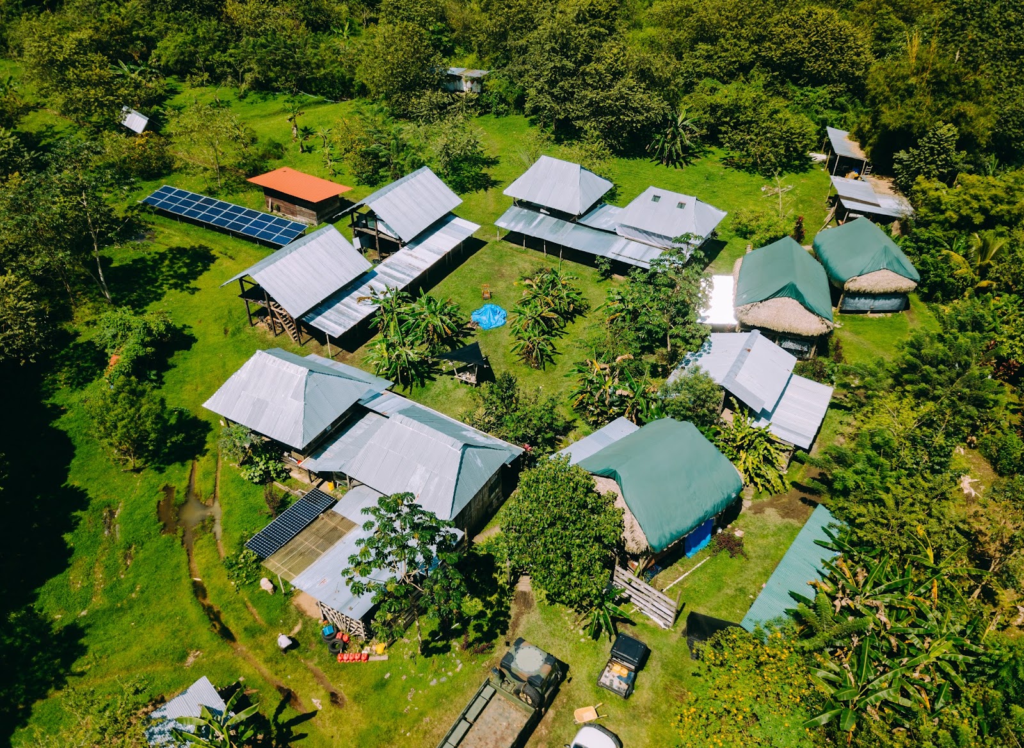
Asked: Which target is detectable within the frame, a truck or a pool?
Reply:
truck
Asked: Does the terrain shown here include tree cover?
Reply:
Yes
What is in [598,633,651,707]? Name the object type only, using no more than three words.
truck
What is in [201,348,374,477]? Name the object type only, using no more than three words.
house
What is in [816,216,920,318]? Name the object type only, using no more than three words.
shed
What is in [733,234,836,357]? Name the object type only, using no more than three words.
shed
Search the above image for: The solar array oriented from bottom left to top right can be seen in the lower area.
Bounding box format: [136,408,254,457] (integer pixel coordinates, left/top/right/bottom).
[245,489,336,577]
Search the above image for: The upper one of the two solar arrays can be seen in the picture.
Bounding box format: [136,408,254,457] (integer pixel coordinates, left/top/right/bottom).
[142,185,308,250]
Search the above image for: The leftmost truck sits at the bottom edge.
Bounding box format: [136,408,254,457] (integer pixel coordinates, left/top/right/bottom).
[439,633,575,748]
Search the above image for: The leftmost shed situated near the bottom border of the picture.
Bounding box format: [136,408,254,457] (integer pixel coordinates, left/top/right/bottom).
[147,676,234,748]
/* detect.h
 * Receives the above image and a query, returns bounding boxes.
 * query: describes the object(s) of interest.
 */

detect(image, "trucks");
[439,633,575,748]
[598,633,651,707]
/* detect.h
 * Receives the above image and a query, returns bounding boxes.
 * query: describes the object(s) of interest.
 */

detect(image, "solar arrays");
[142,185,308,250]
[245,489,336,577]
